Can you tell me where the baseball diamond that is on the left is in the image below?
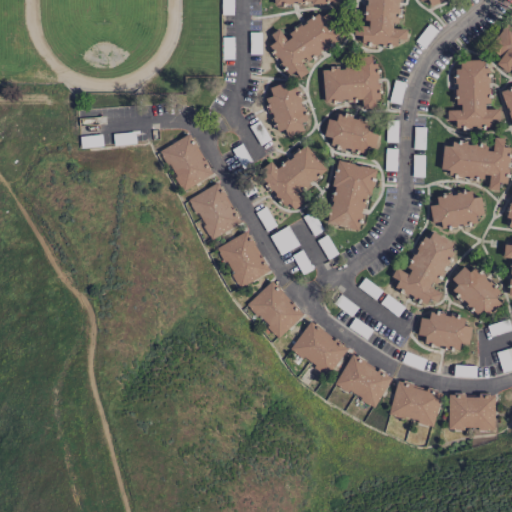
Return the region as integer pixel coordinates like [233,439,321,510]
[39,0,170,80]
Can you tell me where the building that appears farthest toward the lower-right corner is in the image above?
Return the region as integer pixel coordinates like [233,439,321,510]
[450,394,498,431]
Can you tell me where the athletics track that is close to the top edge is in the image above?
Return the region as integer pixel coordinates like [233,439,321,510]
[26,0,182,92]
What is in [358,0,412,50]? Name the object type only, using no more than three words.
building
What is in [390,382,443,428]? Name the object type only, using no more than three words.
house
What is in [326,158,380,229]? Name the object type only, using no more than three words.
building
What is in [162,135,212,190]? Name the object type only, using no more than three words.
house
